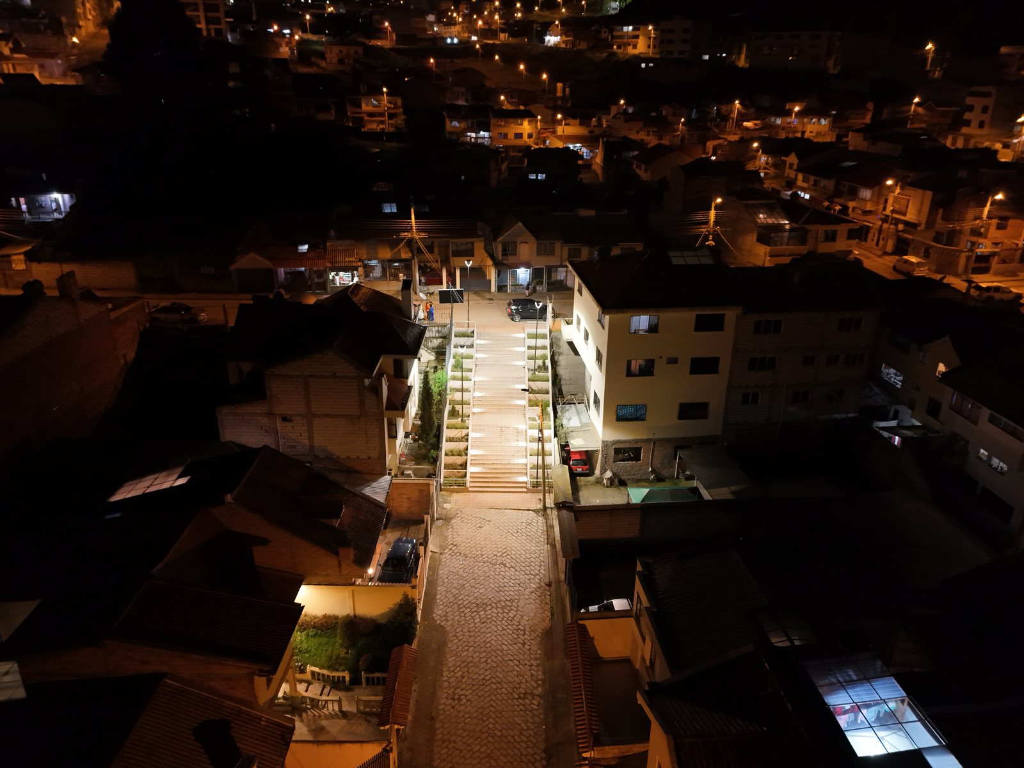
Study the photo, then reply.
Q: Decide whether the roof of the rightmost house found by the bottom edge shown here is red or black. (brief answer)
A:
black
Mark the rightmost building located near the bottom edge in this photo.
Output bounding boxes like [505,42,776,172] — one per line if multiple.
[764,577,1024,768]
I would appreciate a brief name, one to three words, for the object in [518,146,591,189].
house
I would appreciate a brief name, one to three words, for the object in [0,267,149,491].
building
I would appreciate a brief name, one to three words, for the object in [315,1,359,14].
house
